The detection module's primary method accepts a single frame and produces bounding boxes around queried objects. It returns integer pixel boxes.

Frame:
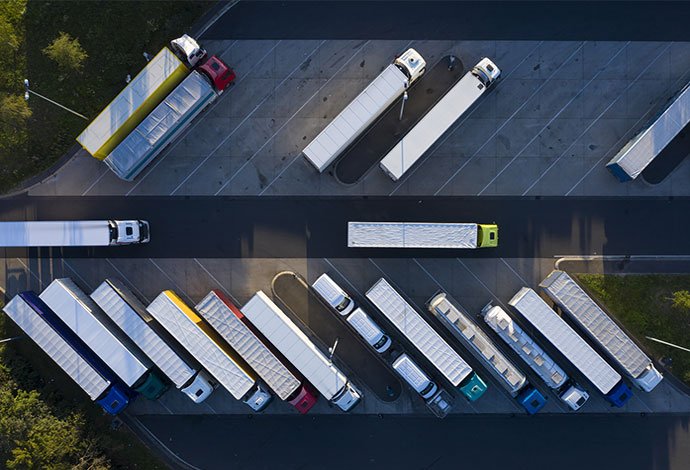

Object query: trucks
[105,57,237,180]
[379,56,502,182]
[476,300,586,411]
[89,279,219,404]
[147,290,276,415]
[76,33,208,160]
[2,291,137,415]
[605,78,690,182]
[303,50,426,172]
[241,290,365,415]
[365,277,488,401]
[347,222,497,250]
[424,289,546,411]
[0,220,150,248]
[538,270,662,395]
[196,290,320,415]
[39,277,172,402]
[310,269,454,416]
[507,287,634,408]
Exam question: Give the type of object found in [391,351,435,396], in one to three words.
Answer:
van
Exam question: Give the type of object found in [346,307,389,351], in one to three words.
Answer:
van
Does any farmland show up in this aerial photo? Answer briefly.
No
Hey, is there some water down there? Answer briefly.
No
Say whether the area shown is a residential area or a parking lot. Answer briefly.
parking lot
